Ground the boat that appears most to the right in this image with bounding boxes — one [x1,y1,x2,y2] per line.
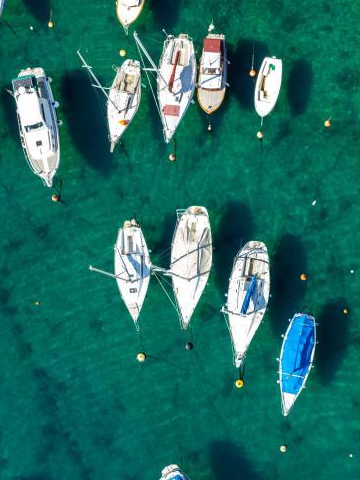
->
[275,300,319,442]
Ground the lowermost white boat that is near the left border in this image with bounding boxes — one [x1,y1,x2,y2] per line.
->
[3,68,69,194]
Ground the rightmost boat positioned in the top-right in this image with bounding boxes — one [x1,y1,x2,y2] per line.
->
[253,54,283,131]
